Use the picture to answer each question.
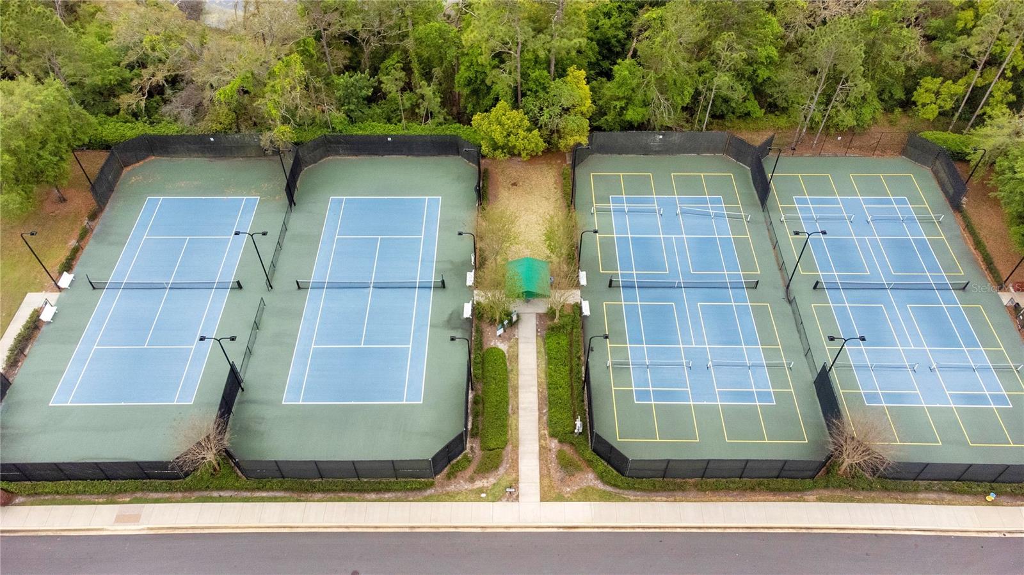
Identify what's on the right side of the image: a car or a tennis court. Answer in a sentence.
You can see a tennis court on the right side of the image.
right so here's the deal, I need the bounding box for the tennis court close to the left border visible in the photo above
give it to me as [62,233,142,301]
[0,157,293,476]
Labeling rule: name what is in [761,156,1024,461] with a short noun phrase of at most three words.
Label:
tennis court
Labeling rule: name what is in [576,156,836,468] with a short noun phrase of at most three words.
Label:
tennis court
